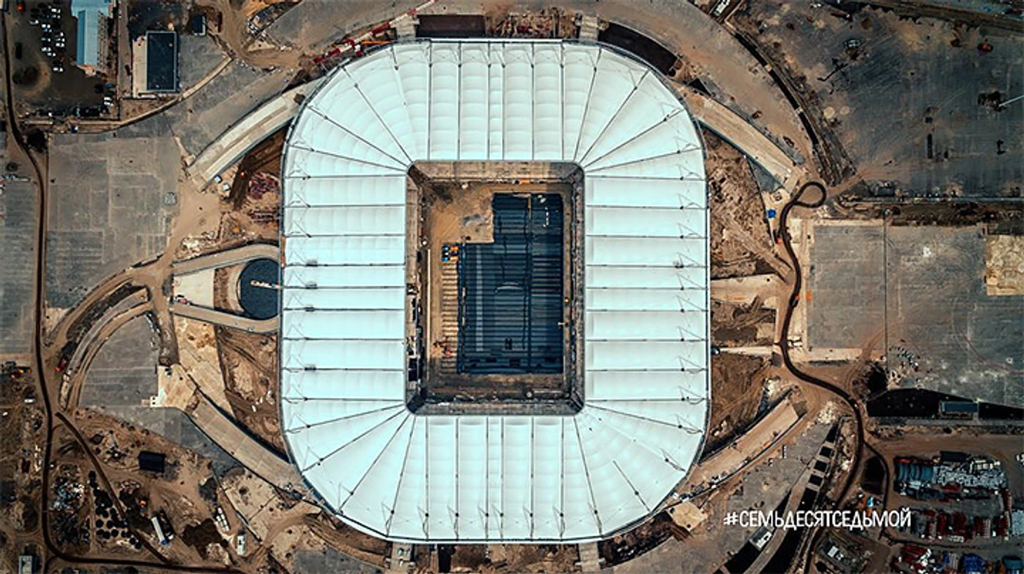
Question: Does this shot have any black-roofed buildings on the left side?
Yes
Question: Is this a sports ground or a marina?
sports ground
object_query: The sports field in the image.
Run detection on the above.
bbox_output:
[458,193,564,374]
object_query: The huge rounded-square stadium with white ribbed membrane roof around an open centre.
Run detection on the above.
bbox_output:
[280,39,710,545]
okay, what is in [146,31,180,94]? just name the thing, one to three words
building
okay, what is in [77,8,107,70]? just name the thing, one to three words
building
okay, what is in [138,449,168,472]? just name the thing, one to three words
shed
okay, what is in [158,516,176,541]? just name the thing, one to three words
vehicle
